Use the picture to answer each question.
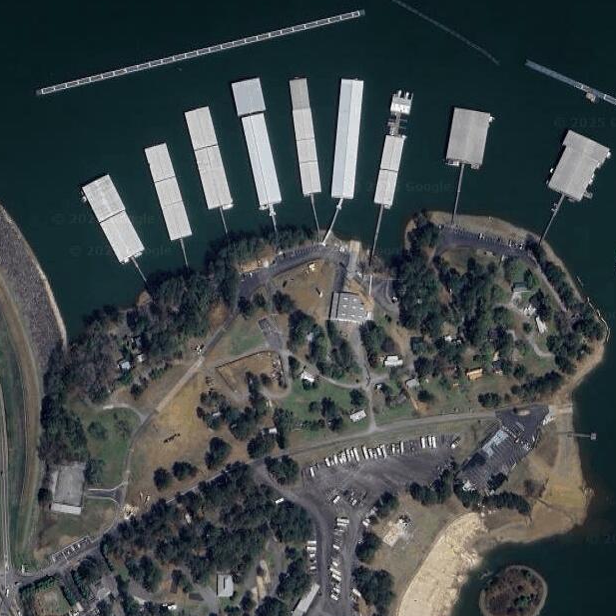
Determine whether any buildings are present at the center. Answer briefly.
Yes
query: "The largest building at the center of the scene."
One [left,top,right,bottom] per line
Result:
[330,292,365,323]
